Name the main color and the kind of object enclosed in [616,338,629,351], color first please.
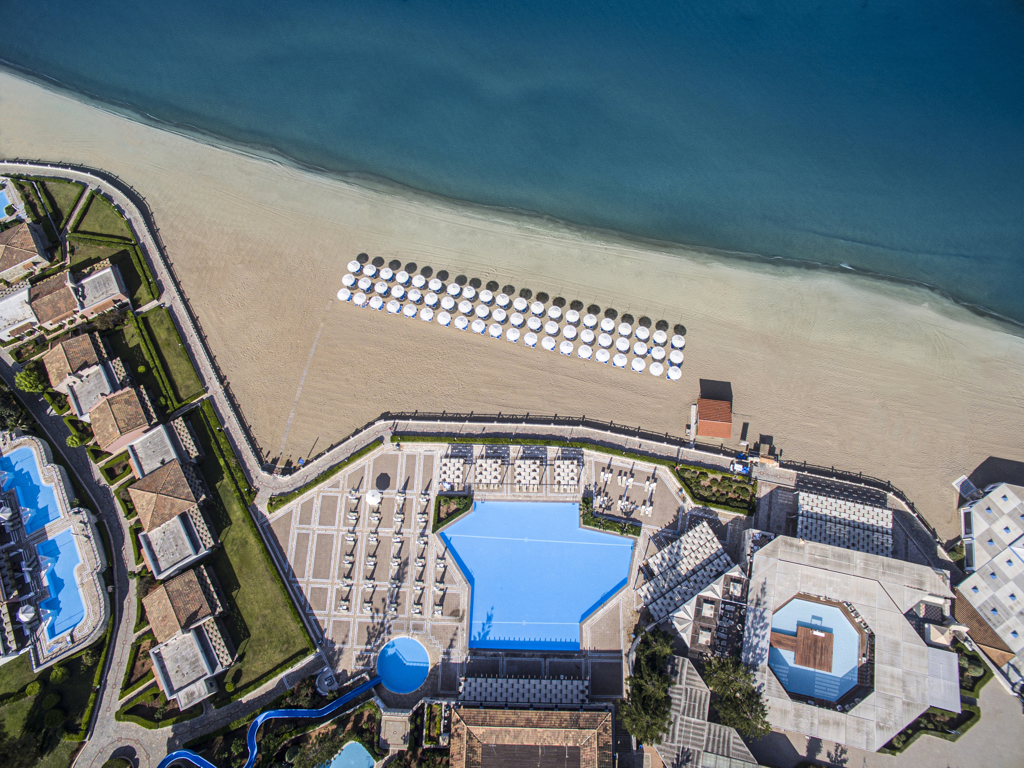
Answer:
white umbrella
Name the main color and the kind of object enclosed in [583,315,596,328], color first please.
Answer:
white umbrella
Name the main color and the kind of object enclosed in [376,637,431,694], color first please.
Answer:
blue swimming pool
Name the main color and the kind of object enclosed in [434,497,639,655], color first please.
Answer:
blue swimming pool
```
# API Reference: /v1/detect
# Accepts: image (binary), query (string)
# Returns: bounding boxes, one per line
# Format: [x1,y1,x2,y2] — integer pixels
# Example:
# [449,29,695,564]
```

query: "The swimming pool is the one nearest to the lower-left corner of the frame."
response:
[34,525,87,644]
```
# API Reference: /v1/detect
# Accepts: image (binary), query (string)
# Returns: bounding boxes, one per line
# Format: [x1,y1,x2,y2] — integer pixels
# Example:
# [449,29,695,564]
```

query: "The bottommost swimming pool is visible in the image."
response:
[327,738,378,768]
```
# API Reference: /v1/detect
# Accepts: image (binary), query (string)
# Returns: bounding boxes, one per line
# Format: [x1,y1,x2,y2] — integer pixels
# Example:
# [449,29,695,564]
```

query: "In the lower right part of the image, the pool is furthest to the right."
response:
[768,599,858,703]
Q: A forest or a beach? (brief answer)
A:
beach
